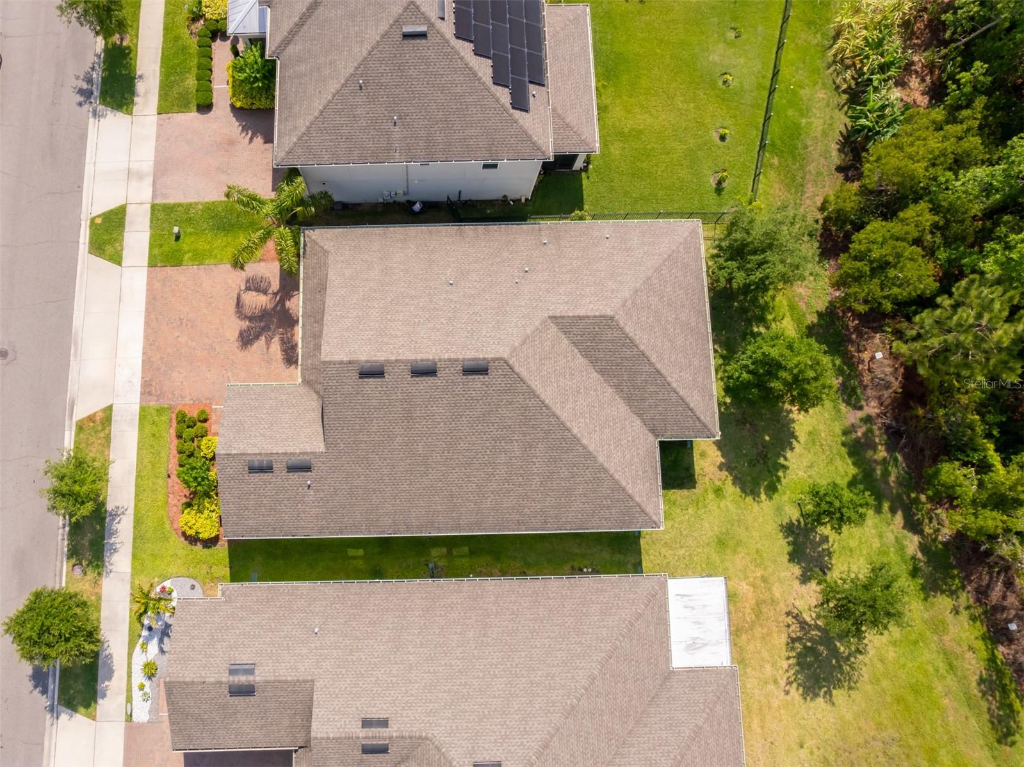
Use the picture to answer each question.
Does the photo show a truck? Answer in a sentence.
No, the scene contains no truck.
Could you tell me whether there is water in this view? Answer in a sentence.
No, the scene doesn't show any water.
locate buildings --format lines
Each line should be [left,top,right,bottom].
[163,573,750,767]
[226,0,601,203]
[216,218,723,539]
